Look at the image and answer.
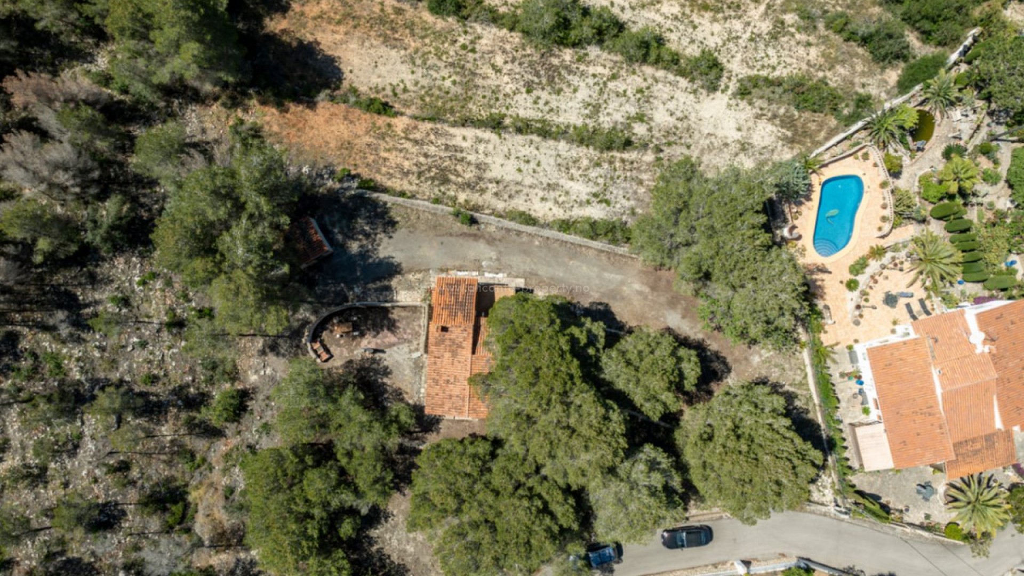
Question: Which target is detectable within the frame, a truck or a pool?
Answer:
pool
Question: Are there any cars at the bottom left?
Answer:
No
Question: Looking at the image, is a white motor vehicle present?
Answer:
No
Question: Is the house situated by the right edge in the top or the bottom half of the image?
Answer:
bottom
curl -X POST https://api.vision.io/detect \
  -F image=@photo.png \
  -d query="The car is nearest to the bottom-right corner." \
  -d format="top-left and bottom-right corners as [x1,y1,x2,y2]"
[663,524,710,550]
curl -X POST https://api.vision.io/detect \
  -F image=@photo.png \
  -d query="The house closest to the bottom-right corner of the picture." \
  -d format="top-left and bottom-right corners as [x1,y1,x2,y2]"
[851,290,1024,480]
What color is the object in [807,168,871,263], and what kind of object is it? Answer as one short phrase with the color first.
blue swimming pool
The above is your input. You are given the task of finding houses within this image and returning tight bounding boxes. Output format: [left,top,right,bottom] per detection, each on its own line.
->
[424,277,535,419]
[851,290,1024,480]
